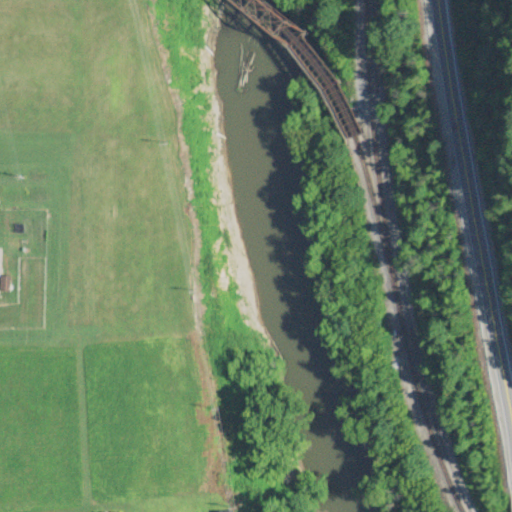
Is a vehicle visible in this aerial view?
No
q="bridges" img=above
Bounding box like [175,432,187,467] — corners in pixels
[230,0,360,136]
